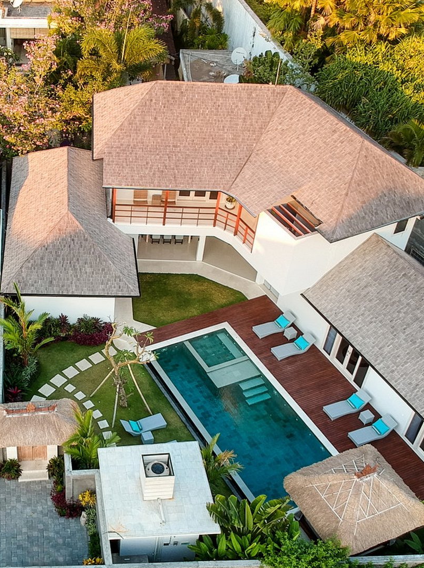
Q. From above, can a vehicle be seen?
No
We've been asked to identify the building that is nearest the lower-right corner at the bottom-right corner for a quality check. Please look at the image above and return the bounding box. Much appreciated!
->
[282,444,424,561]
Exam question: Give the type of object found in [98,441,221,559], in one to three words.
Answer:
shed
